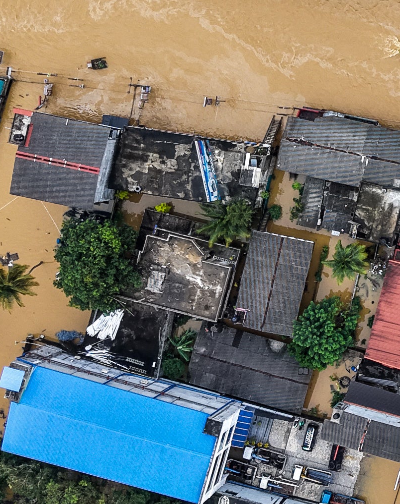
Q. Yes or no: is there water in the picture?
Yes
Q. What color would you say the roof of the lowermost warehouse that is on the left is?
blue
